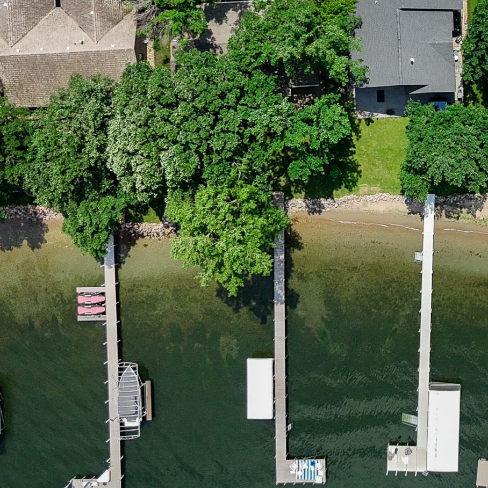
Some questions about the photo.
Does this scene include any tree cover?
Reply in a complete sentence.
Yes, tree cover shows up in the scene.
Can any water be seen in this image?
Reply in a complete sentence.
Yes, there's water in this view.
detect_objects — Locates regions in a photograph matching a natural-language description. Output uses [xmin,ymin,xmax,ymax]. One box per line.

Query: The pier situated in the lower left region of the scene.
[69,243,126,488]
